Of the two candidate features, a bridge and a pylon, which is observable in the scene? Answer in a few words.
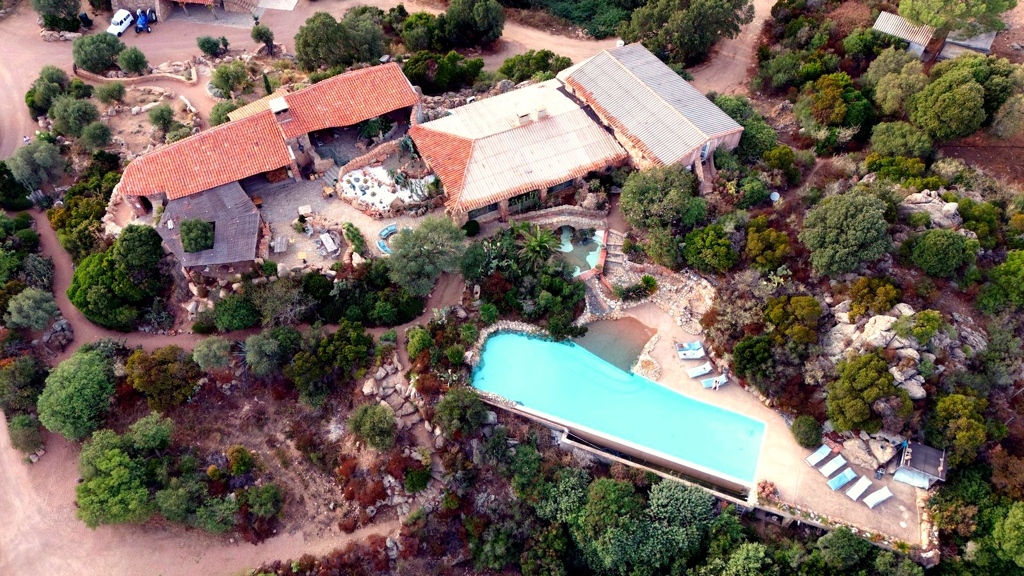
bridge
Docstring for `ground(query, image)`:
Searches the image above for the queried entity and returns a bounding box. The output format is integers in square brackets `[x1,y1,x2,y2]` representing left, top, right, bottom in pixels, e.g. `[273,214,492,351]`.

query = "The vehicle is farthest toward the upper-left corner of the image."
[106,3,133,31]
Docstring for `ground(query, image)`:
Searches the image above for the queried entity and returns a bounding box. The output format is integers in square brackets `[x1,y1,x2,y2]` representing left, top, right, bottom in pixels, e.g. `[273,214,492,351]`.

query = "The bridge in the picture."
[497,209,611,253]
